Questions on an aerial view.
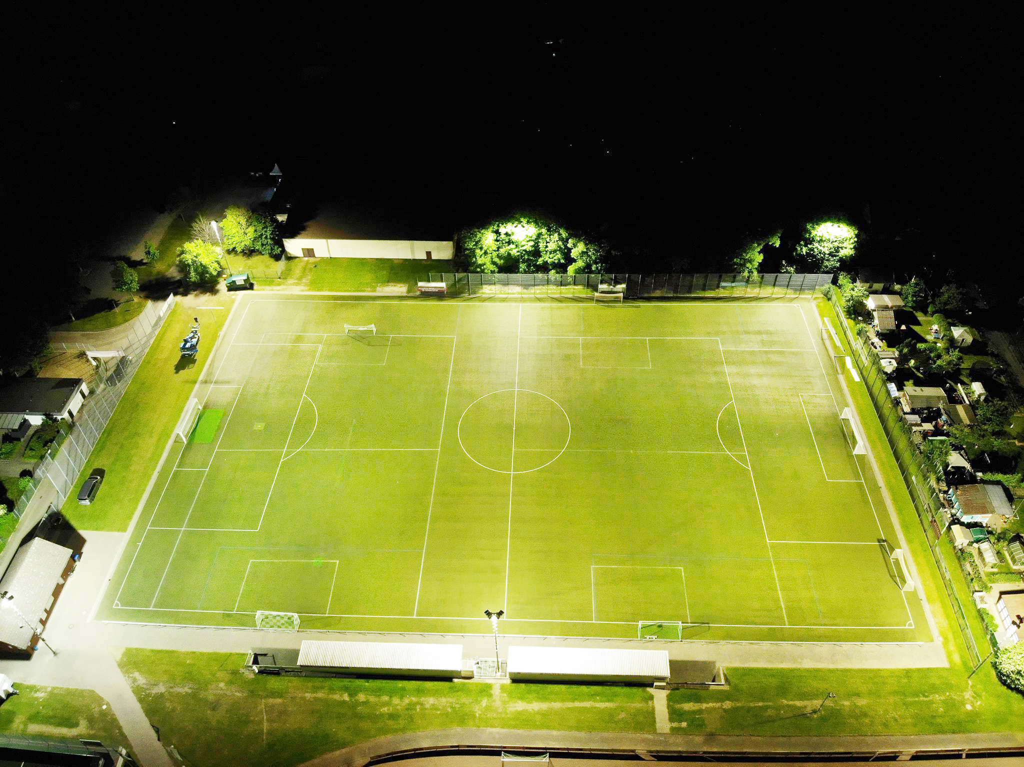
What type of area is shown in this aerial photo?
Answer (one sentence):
It's a sports ground.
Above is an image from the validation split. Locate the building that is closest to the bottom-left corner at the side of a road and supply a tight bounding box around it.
[0,537,79,658]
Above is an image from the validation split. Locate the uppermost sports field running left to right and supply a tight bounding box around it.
[95,294,934,642]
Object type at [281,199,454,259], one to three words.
building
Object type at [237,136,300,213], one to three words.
house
